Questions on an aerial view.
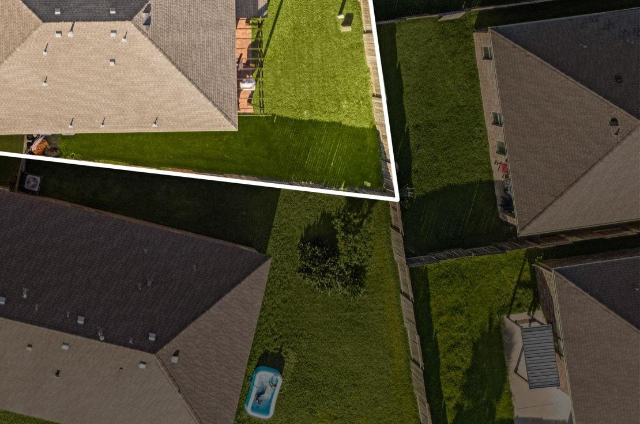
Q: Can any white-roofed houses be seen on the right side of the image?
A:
No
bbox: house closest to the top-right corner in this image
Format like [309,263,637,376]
[474,6,640,238]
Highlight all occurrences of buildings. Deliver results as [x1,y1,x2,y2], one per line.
[536,248,640,424]
[0,0,240,135]
[0,187,271,424]
[474,6,640,238]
